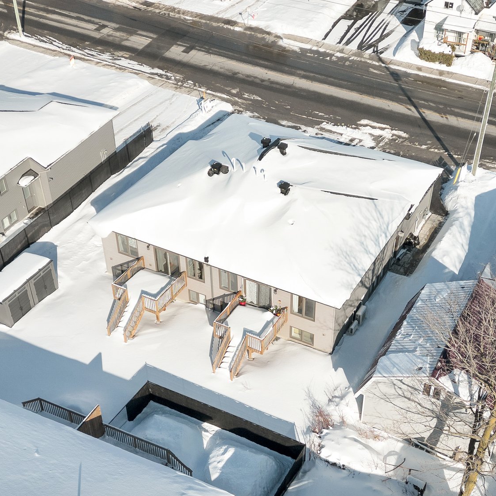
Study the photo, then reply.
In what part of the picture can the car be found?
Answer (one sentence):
The car appears toward the top right of the photo.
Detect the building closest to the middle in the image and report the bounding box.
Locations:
[83,109,444,356]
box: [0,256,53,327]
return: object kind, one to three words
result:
shed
